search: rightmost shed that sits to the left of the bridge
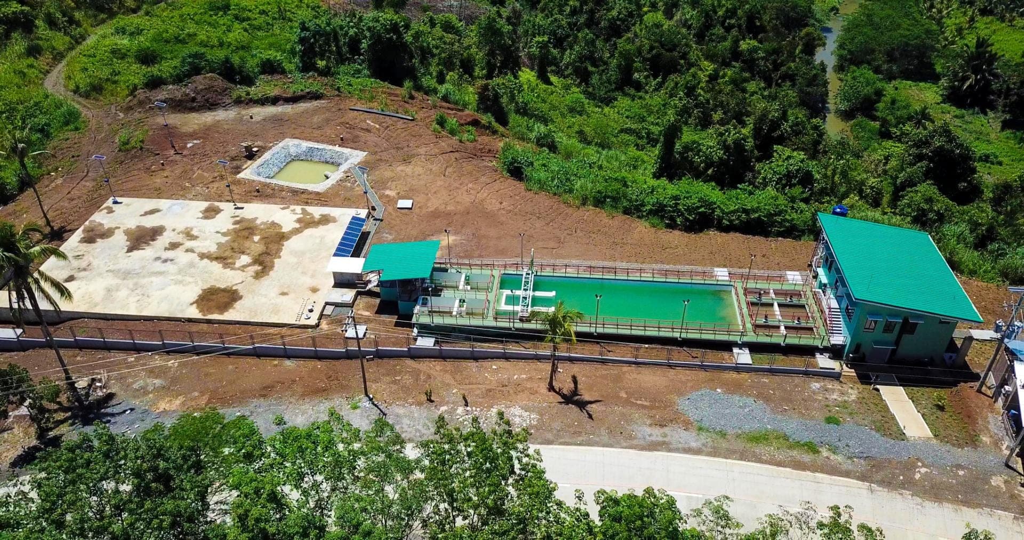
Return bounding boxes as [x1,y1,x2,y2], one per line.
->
[362,237,441,314]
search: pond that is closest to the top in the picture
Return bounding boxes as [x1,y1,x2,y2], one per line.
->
[238,138,367,192]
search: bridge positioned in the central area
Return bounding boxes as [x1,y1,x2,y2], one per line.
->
[515,262,537,326]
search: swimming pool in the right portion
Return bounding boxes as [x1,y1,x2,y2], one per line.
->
[496,276,740,329]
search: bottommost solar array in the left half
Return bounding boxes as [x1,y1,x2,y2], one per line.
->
[331,214,368,256]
